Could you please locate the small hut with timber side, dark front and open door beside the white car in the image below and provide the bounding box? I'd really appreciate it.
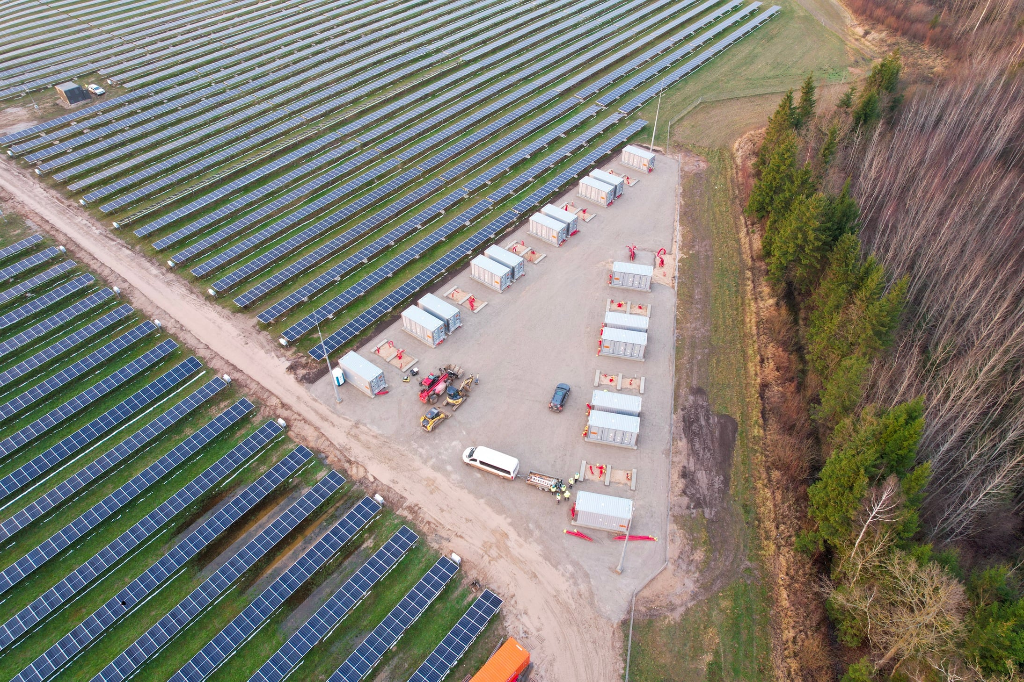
[57,81,90,104]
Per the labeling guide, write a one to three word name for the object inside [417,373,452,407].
work vehicle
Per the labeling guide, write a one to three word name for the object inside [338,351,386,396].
shipping container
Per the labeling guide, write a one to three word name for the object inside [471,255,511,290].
shipping container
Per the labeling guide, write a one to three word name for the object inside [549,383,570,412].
car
